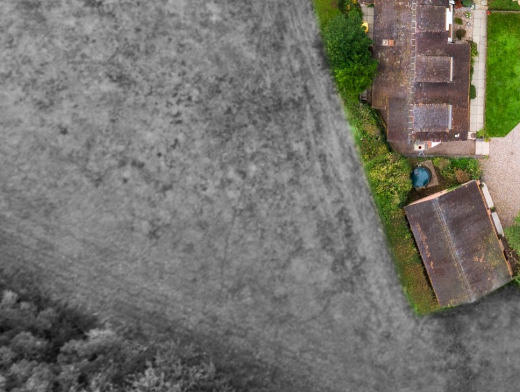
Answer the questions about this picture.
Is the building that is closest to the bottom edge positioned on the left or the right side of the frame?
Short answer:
right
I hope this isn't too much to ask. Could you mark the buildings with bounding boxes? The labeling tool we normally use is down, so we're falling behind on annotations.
[404,179,514,307]
[357,0,477,157]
